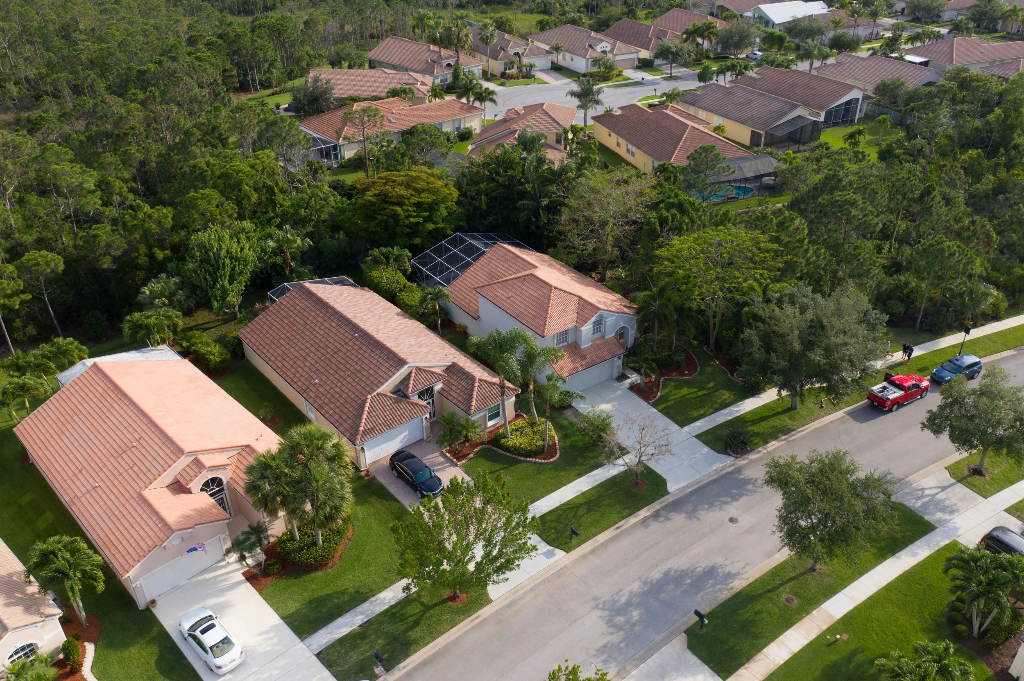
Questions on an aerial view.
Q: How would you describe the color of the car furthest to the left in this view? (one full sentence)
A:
The car furthest to the left looks white in the image.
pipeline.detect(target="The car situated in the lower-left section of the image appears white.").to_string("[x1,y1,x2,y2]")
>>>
[175,606,245,676]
